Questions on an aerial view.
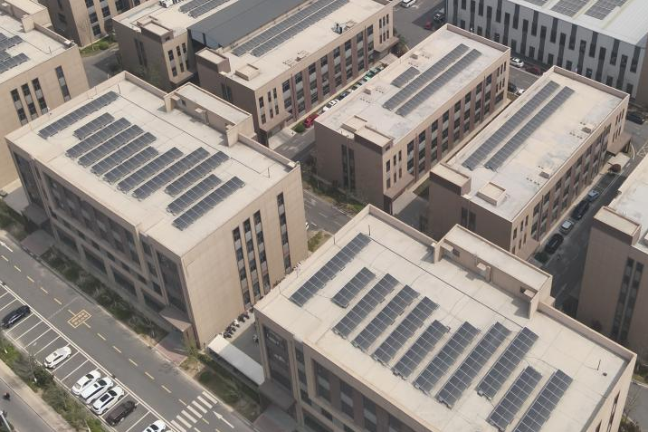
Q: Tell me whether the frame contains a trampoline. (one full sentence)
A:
No, no trampoline is visible in the view.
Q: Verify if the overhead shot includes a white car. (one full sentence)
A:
Yes, the photo shows a white car.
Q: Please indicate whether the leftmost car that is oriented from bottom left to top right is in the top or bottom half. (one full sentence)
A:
It is in the bottom half that the leftmost car that is oriented from bottom left to top right appears.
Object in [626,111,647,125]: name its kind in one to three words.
vehicle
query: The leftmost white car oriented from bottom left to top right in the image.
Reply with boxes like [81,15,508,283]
[42,345,73,370]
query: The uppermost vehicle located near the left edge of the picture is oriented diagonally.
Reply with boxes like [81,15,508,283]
[0,305,31,328]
